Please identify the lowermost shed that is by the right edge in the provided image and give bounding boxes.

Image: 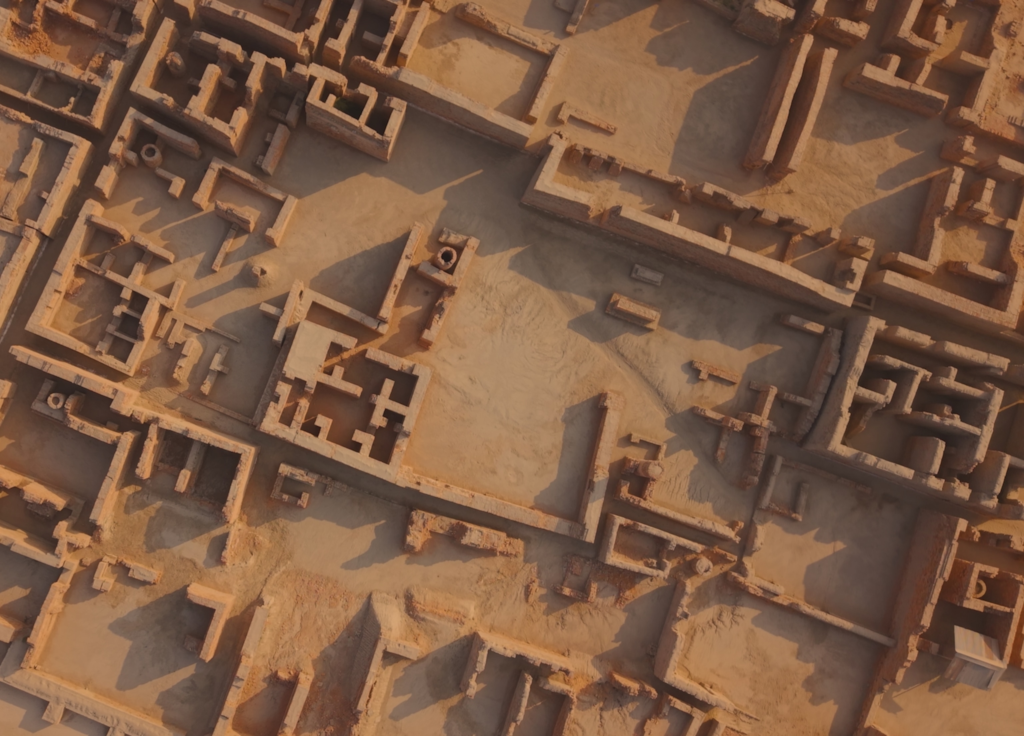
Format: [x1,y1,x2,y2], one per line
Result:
[938,620,1005,690]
